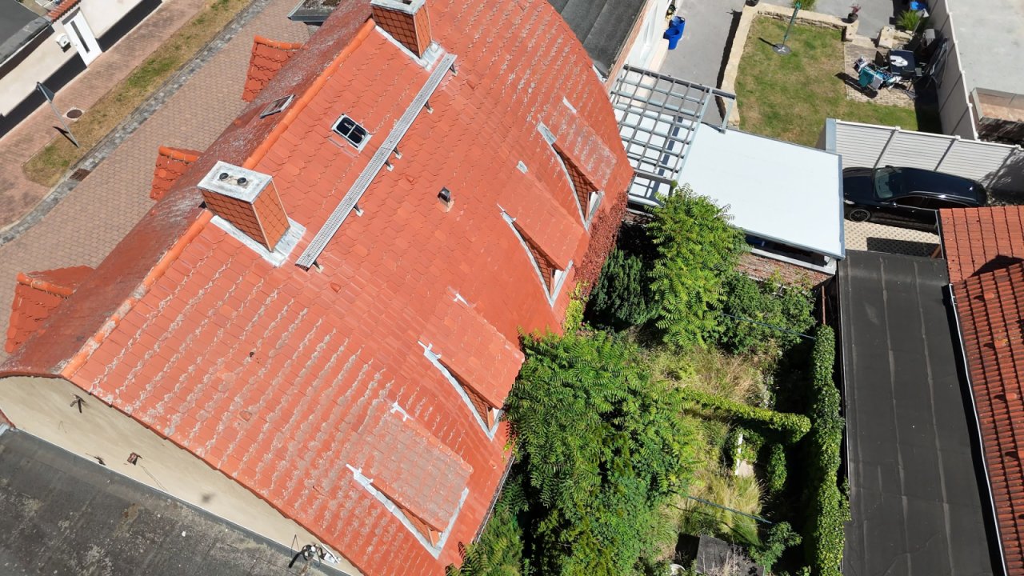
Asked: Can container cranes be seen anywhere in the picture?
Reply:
No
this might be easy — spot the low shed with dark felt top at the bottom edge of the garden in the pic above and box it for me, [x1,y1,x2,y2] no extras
[688,532,756,576]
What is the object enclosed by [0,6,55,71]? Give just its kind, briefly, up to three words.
building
